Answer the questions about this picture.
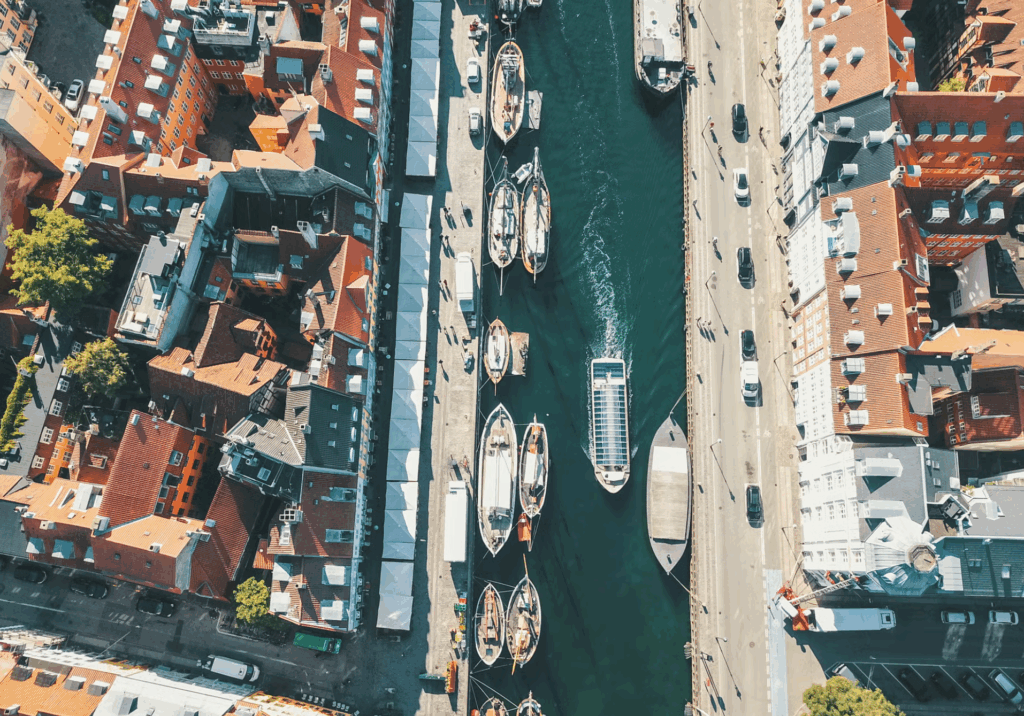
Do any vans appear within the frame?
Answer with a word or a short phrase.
Yes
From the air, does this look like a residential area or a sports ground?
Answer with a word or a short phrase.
residential area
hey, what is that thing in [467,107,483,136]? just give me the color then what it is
white car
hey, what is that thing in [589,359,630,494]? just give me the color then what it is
white boat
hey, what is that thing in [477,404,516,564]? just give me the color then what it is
white boat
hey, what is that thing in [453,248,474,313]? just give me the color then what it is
white truck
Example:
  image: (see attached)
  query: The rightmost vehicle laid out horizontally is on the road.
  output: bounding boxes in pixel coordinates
[983,608,1023,626]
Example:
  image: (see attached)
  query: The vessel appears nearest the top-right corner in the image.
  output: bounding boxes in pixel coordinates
[637,0,688,115]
